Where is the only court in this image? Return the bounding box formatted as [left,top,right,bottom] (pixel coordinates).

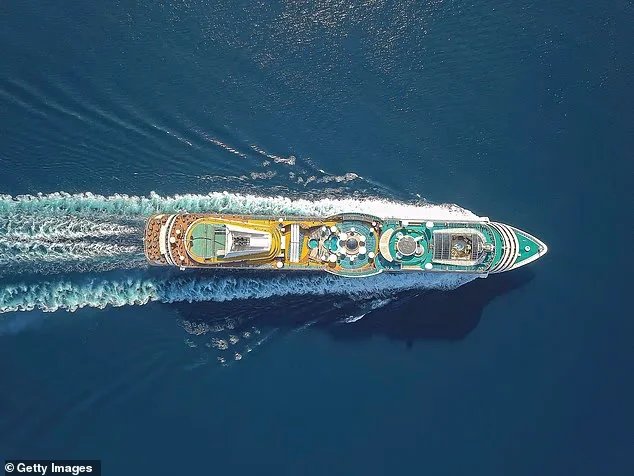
[192,223,226,258]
